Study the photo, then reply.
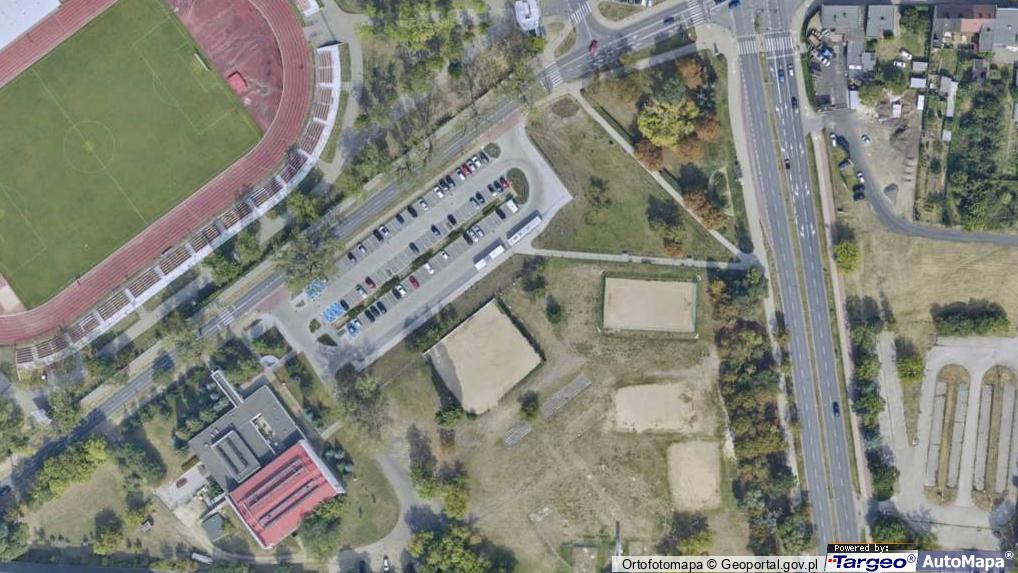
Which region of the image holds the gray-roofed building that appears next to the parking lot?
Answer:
bottom left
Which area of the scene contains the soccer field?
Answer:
top left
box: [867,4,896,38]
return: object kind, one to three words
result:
house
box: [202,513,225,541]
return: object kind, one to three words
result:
shed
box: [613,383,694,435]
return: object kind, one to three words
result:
sports court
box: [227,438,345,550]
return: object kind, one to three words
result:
building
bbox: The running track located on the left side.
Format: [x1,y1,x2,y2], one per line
[0,0,312,341]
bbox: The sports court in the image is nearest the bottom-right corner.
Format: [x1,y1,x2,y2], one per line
[668,441,720,511]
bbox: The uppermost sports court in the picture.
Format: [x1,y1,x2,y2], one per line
[602,278,696,332]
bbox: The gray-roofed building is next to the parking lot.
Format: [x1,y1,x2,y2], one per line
[188,386,304,494]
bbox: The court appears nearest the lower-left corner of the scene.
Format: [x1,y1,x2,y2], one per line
[431,302,540,412]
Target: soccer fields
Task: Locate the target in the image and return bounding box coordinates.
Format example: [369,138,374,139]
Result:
[0,0,261,303]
